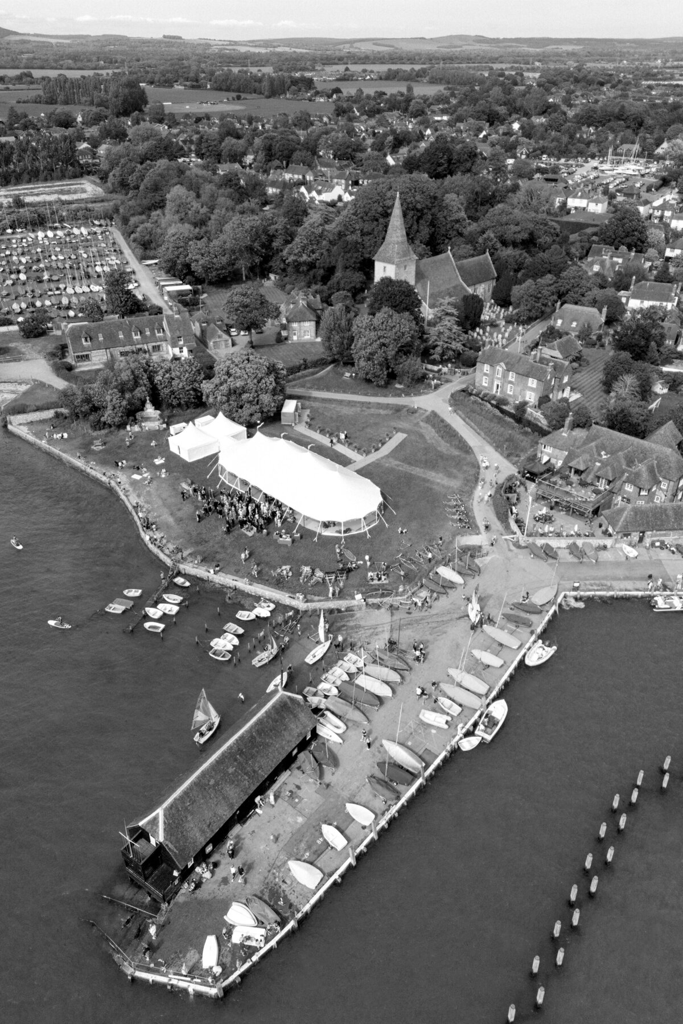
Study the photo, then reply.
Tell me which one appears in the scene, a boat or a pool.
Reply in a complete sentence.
This aerial view contains a boat.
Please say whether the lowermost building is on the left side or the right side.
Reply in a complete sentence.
You can find the lowermost building on the left side of the picture.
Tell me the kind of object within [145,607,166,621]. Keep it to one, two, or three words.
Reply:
boat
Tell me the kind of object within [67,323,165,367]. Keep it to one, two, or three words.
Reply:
barn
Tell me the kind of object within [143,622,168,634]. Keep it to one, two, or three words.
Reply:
boat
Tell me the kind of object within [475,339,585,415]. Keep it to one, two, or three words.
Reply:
house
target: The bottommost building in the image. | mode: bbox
[120,687,317,908]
